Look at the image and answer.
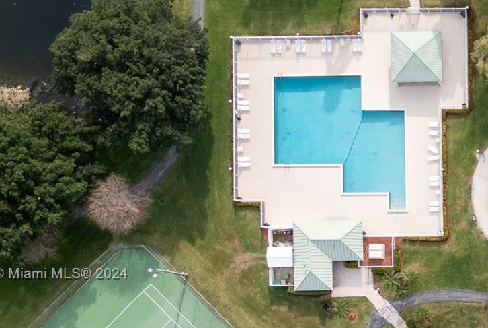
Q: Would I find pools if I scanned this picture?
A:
Yes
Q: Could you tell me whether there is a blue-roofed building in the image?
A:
No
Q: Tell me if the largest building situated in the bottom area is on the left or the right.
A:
right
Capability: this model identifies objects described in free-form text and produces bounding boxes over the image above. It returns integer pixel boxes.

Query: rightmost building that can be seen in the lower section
[293,221,363,291]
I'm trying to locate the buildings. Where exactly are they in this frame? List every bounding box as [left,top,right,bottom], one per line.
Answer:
[390,29,443,87]
[293,221,363,291]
